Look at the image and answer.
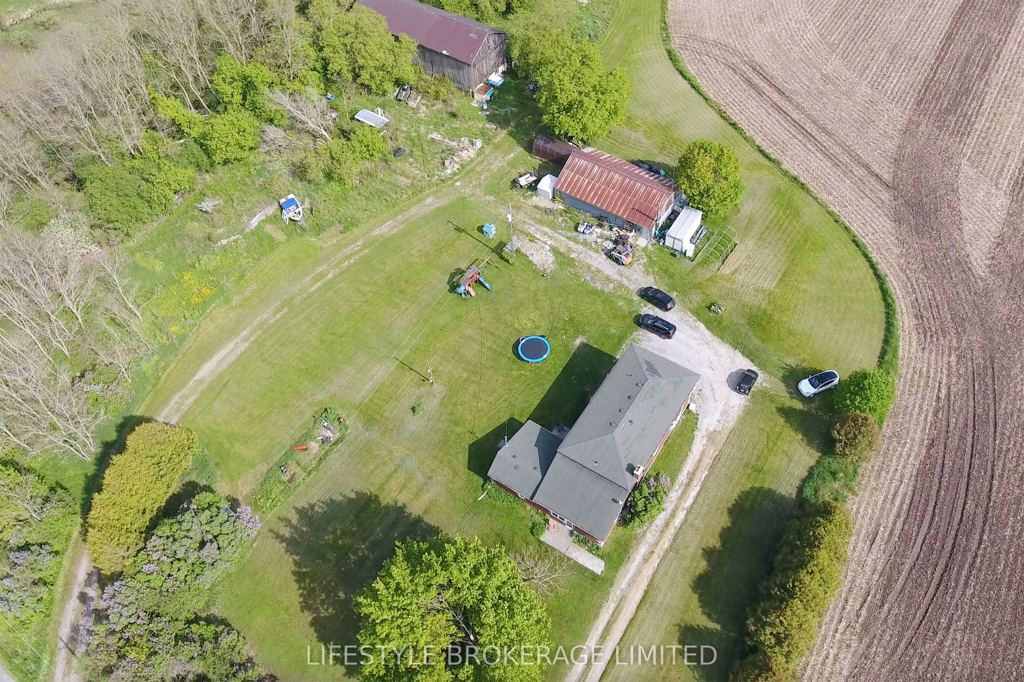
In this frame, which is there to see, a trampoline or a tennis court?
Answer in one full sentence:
The one in the frame is a trampoline.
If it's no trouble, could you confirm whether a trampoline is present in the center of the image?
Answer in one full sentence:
Yes, a trampoline shows up in the center of the image.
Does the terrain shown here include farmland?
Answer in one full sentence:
Yes, the picture does contain farmland.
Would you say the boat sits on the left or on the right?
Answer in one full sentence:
You can find the boat on the left side of the picture.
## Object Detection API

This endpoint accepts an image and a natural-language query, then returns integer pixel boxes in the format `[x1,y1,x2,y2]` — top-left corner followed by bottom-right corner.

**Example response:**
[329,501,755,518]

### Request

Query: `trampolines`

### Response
[521,337,548,364]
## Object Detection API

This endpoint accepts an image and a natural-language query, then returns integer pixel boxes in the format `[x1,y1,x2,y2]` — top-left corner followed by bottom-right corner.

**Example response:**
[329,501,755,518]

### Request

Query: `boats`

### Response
[278,191,300,216]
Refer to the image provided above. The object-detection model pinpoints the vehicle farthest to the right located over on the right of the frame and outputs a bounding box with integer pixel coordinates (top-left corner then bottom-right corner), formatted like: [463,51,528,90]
[798,368,841,396]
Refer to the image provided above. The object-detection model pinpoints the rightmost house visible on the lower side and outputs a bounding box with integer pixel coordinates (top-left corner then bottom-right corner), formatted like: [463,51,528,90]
[487,341,701,550]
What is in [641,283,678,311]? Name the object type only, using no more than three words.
car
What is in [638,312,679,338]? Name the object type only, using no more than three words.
car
